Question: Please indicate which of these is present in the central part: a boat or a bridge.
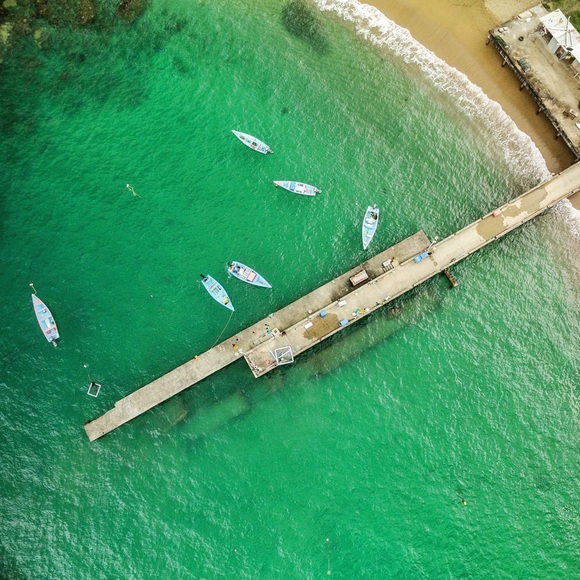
boat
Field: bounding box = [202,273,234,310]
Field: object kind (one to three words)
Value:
boat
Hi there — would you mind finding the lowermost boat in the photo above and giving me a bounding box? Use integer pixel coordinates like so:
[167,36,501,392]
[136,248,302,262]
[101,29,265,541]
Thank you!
[31,294,59,344]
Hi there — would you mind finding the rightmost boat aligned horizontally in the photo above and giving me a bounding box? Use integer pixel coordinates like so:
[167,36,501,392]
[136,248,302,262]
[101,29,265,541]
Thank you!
[274,180,321,195]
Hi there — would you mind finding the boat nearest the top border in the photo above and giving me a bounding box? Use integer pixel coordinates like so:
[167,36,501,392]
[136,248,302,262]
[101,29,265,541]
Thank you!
[231,130,272,155]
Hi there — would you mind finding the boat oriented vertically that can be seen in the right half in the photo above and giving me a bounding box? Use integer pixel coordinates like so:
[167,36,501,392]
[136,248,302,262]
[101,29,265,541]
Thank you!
[362,202,378,250]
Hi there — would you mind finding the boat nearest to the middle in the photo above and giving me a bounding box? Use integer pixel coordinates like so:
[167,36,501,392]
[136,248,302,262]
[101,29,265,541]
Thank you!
[226,262,271,288]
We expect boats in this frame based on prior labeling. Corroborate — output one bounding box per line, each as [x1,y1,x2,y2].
[202,273,234,310]
[362,202,378,250]
[231,130,272,155]
[31,294,59,344]
[274,180,321,195]
[226,262,271,288]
